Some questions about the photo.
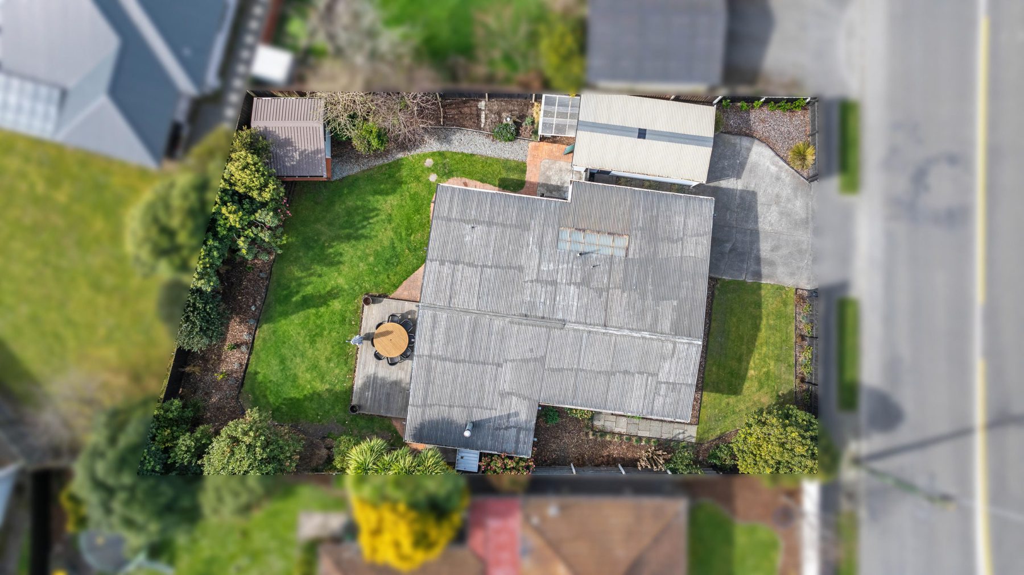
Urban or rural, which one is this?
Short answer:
urban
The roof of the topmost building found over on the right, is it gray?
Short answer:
Yes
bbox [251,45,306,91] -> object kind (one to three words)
shed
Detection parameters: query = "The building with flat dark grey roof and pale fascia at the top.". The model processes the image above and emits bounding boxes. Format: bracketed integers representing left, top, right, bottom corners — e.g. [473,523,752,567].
[588,0,726,94]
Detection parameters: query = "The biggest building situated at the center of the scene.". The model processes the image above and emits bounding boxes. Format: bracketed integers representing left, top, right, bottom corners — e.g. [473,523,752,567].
[401,177,718,460]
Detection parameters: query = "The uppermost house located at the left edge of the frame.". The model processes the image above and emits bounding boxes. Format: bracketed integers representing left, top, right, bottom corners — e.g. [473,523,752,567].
[0,0,232,170]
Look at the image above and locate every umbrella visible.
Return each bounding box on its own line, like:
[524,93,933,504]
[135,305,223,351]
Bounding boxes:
[346,332,362,347]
